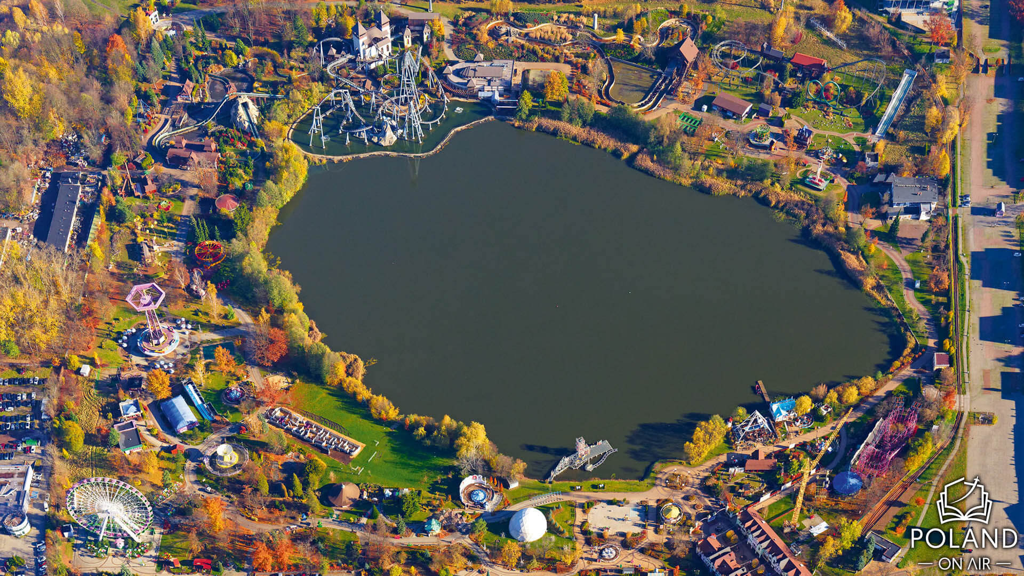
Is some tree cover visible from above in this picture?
Yes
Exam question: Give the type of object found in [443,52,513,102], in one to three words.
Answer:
building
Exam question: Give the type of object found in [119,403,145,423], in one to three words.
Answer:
house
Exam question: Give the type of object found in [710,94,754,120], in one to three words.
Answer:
building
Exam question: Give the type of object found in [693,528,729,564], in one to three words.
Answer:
house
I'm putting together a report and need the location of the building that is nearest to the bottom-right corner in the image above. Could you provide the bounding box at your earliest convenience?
[864,531,902,564]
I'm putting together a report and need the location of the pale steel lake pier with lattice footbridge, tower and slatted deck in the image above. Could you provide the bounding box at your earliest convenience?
[546,435,618,482]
